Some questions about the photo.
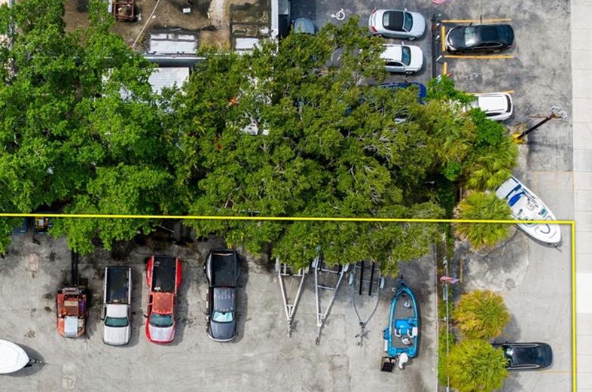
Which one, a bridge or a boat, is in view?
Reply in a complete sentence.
Visible in the photo is a boat.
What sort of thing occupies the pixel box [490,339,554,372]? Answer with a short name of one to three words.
car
